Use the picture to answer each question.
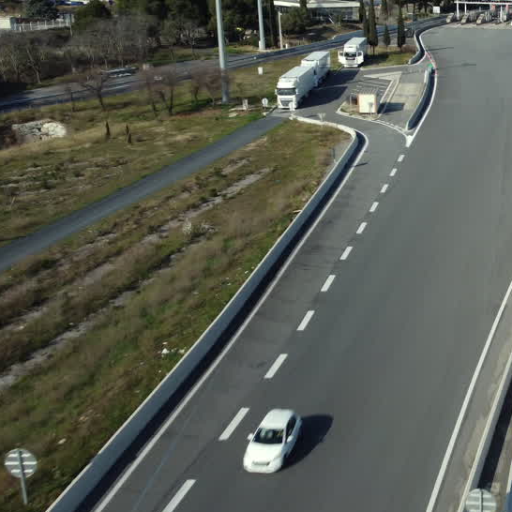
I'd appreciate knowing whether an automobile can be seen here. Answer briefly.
Yes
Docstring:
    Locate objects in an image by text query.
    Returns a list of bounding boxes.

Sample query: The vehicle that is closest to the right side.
[339,40,364,66]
